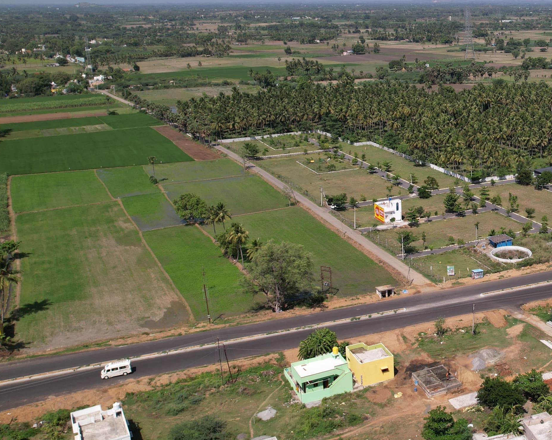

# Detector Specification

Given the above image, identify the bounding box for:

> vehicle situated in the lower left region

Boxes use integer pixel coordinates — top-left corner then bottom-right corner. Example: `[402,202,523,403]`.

[98,357,132,379]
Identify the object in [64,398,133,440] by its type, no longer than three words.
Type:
house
